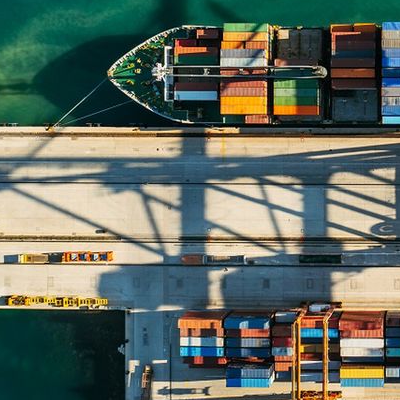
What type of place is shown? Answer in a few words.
port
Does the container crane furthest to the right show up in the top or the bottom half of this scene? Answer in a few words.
bottom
